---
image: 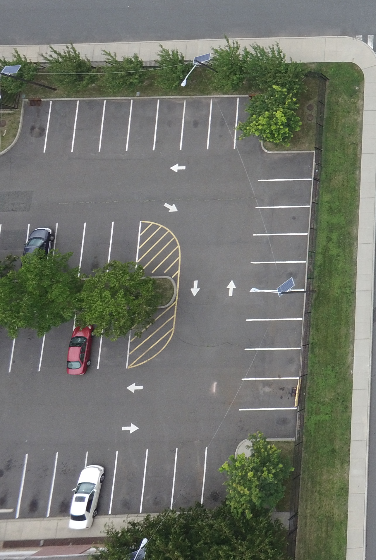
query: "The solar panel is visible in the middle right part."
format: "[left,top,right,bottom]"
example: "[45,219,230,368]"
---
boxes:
[266,280,291,301]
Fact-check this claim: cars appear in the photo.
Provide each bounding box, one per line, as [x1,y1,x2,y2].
[21,230,57,269]
[69,464,106,530]
[65,326,93,374]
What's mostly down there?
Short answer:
paved ground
